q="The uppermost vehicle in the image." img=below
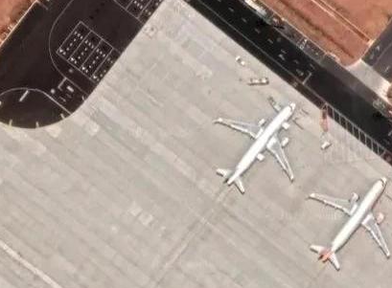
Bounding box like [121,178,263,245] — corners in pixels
[243,0,268,14]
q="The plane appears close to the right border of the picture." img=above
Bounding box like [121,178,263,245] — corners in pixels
[306,179,390,269]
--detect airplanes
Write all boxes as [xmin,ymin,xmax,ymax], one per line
[306,179,390,269]
[213,104,295,192]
